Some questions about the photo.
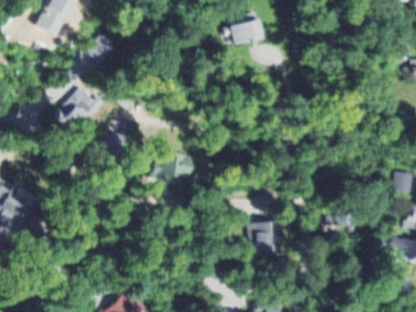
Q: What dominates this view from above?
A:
trees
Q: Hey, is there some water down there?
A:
No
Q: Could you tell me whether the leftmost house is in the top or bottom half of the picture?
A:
bottom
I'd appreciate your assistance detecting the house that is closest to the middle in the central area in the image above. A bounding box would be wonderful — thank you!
[154,154,192,180]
